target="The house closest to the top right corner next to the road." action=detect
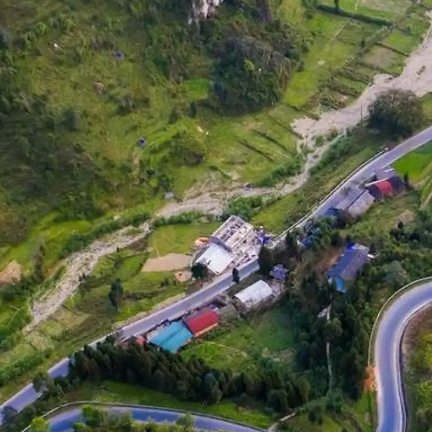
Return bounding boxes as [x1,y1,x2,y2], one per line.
[366,176,406,201]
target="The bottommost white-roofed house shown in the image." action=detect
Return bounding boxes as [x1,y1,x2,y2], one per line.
[234,281,273,309]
